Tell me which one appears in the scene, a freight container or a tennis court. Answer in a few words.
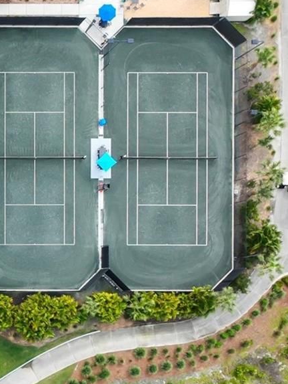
tennis court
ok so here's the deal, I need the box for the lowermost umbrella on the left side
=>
[95,151,116,172]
